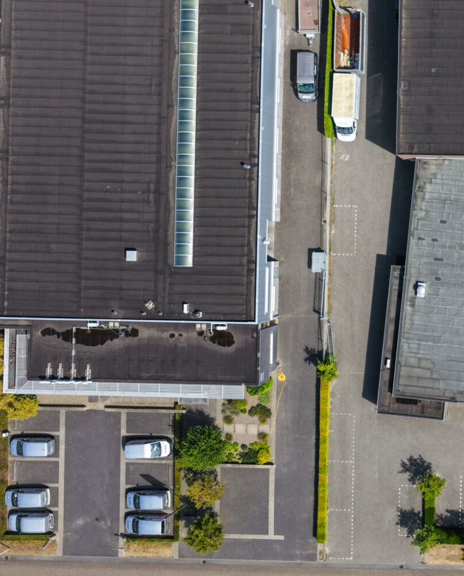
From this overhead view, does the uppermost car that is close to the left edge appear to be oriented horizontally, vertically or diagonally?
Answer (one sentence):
From this overhead view, the uppermost car that is close to the left edge appears to run horizontally.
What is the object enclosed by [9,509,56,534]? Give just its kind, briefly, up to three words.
car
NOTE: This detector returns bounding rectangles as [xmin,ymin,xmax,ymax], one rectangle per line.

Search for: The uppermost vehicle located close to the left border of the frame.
[11,435,59,458]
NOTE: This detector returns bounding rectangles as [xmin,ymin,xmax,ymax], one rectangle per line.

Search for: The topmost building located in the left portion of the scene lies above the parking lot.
[0,0,290,338]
